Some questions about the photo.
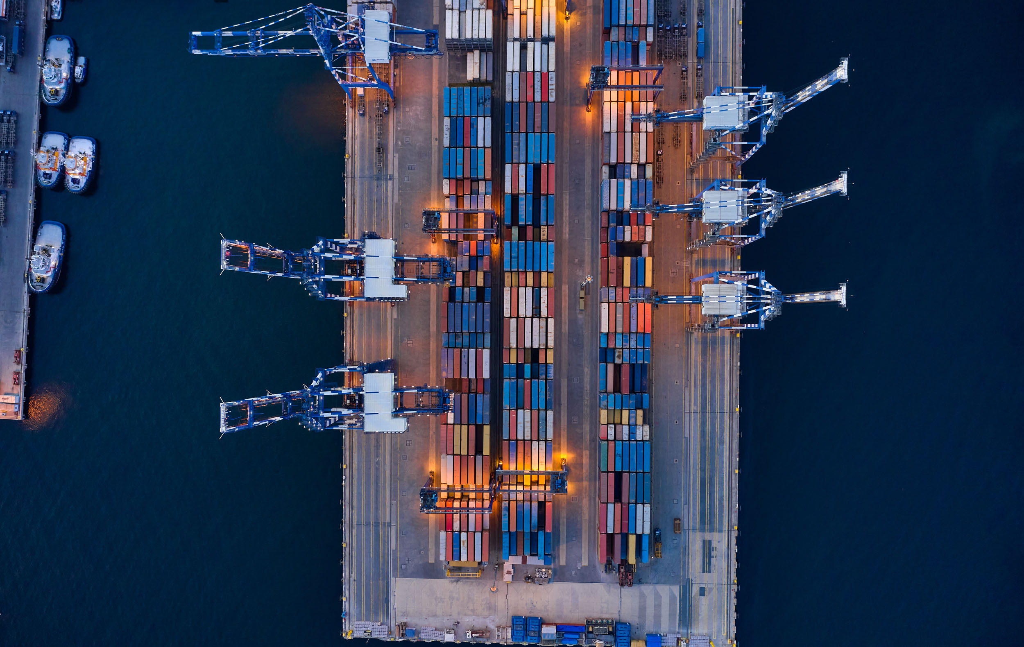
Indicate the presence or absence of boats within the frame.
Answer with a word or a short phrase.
Yes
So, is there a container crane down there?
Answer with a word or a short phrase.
Yes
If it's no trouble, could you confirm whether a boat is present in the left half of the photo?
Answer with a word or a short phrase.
Yes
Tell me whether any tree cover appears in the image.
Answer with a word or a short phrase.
No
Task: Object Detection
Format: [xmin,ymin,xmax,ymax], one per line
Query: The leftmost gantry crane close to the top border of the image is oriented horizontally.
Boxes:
[188,0,448,110]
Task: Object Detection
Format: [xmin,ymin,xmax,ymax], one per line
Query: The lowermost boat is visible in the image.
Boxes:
[27,219,67,293]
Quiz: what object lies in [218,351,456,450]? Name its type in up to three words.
container crane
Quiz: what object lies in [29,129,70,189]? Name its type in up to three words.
boat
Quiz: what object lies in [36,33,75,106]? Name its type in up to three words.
boat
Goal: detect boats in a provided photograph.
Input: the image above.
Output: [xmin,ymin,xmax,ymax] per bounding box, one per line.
[36,33,75,106]
[29,129,70,189]
[49,0,63,21]
[57,134,98,195]
[75,56,89,84]
[27,219,67,293]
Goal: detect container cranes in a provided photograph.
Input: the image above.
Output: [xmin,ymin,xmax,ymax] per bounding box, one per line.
[630,58,857,178]
[188,0,448,110]
[588,62,667,112]
[495,455,569,498]
[423,206,498,244]
[629,169,856,258]
[628,268,848,340]
[218,351,456,450]
[420,470,495,515]
[219,226,457,310]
